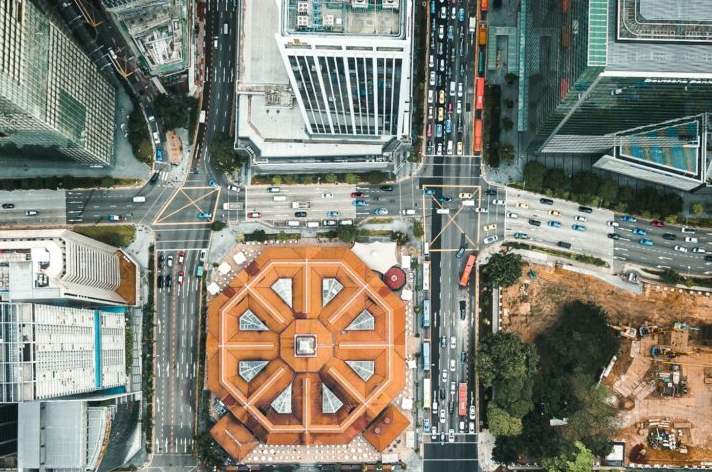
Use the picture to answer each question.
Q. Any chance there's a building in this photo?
Yes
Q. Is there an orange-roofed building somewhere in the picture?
Yes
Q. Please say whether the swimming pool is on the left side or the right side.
right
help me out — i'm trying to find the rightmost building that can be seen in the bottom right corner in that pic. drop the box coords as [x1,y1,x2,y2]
[606,442,626,467]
